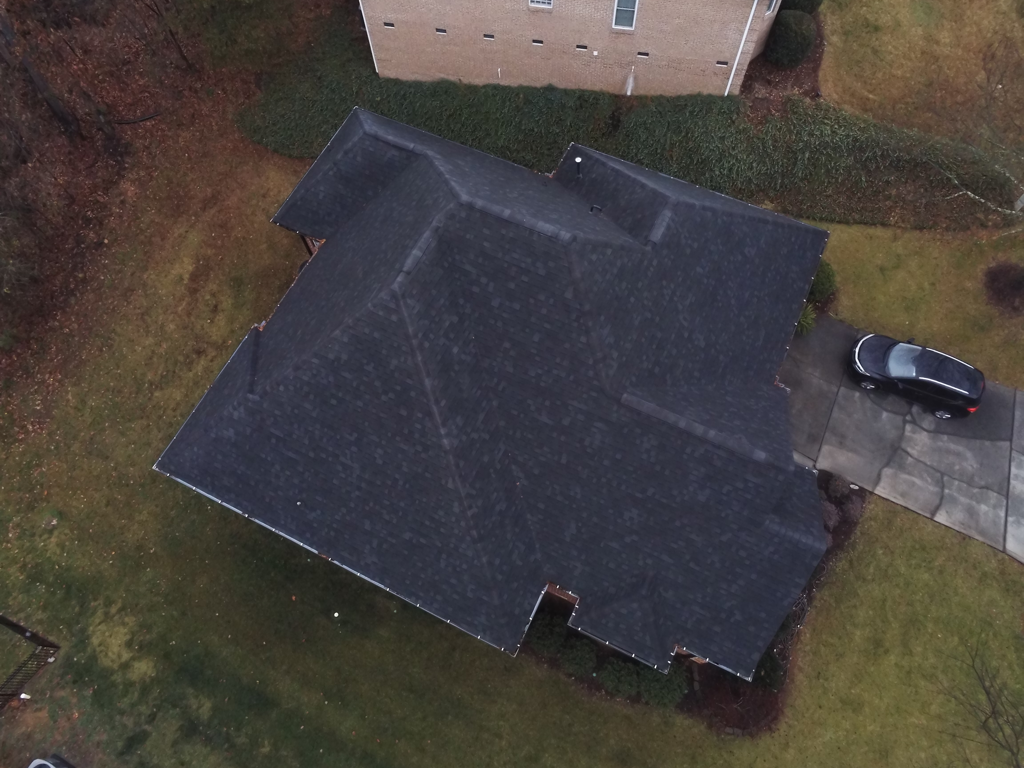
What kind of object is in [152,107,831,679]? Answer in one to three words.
house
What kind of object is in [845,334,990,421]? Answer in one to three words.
car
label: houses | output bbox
[357,0,782,97]
[152,107,831,679]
